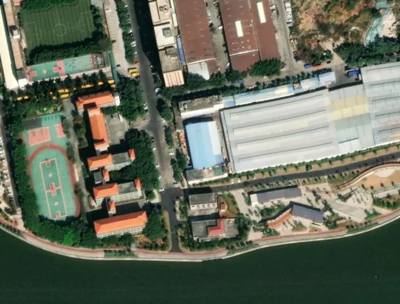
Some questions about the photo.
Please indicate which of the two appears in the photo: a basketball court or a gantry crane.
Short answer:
basketball court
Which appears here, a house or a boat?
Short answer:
house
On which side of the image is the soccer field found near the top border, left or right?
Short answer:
left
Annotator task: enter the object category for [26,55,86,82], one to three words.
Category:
basketball court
